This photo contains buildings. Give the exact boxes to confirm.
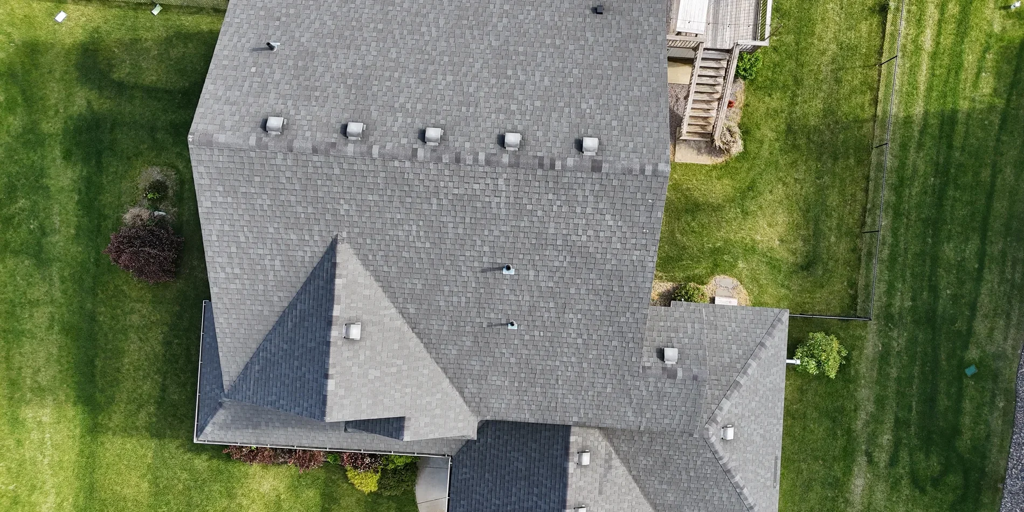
[188,0,799,512]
